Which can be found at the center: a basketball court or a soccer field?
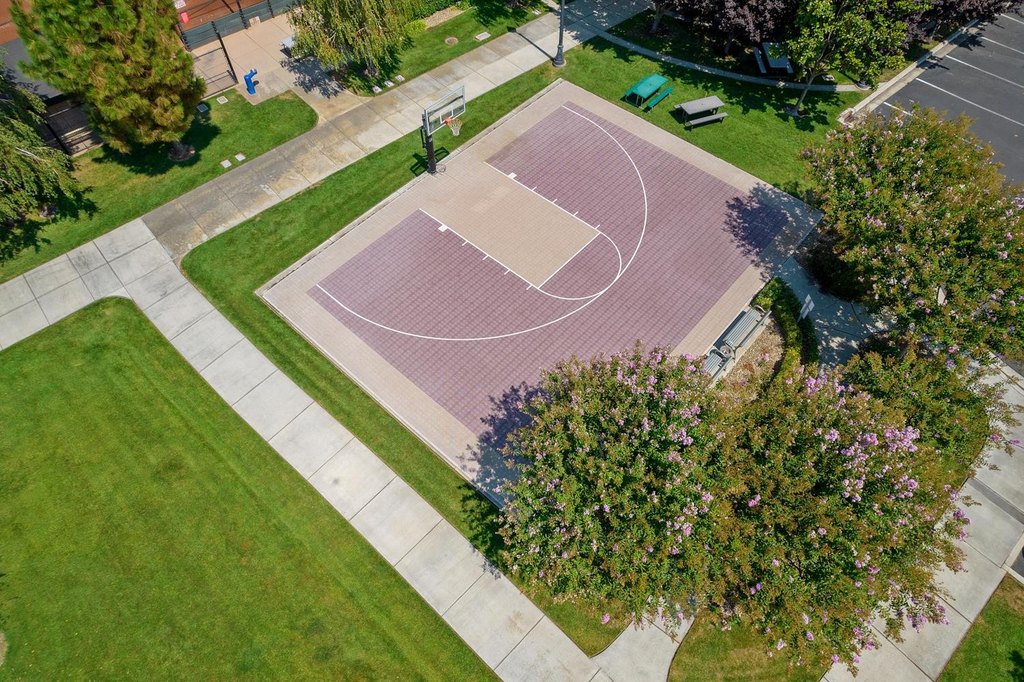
basketball court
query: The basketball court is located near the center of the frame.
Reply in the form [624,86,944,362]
[255,78,824,539]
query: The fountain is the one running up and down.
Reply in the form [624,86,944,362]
[243,66,257,97]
